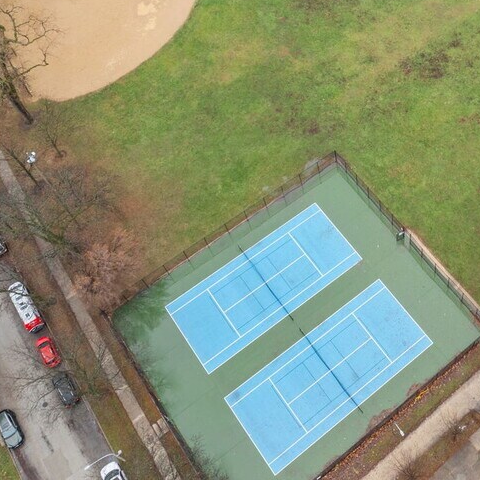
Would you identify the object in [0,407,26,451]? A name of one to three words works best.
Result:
car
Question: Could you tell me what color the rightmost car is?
white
